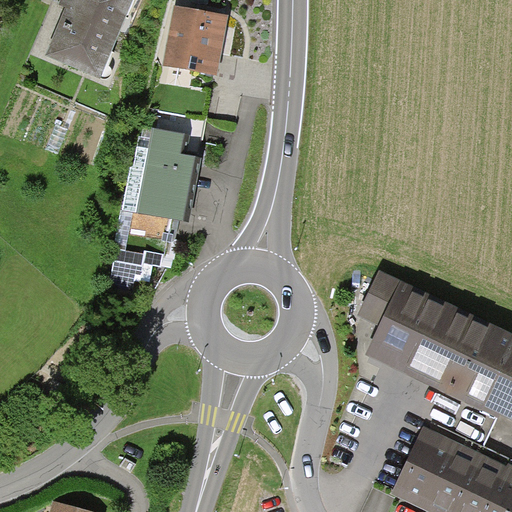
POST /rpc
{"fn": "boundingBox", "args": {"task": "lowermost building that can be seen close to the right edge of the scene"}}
[390,426,512,512]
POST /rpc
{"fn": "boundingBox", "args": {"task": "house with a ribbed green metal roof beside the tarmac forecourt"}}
[138,128,202,221]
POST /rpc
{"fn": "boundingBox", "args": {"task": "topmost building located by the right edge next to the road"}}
[366,280,512,428]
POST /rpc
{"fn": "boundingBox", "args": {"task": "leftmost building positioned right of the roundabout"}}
[358,270,400,324]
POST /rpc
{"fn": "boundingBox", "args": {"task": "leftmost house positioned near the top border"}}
[46,0,135,79]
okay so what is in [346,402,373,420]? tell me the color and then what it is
white car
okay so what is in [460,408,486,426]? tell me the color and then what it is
white car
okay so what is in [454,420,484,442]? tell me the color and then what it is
white truck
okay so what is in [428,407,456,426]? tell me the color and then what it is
white vehicle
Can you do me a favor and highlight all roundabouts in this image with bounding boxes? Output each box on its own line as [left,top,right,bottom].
[186,246,318,378]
